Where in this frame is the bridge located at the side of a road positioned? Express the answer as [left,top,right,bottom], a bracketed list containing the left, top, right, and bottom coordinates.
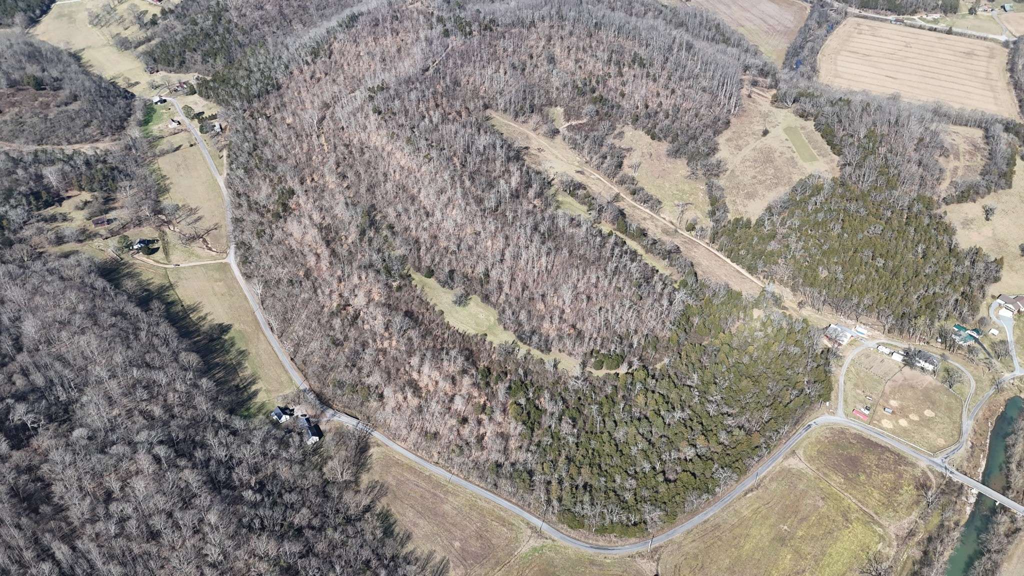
[944,465,1024,517]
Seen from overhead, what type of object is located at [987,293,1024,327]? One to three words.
house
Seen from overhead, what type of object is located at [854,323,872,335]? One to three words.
vehicle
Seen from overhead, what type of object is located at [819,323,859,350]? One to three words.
barn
